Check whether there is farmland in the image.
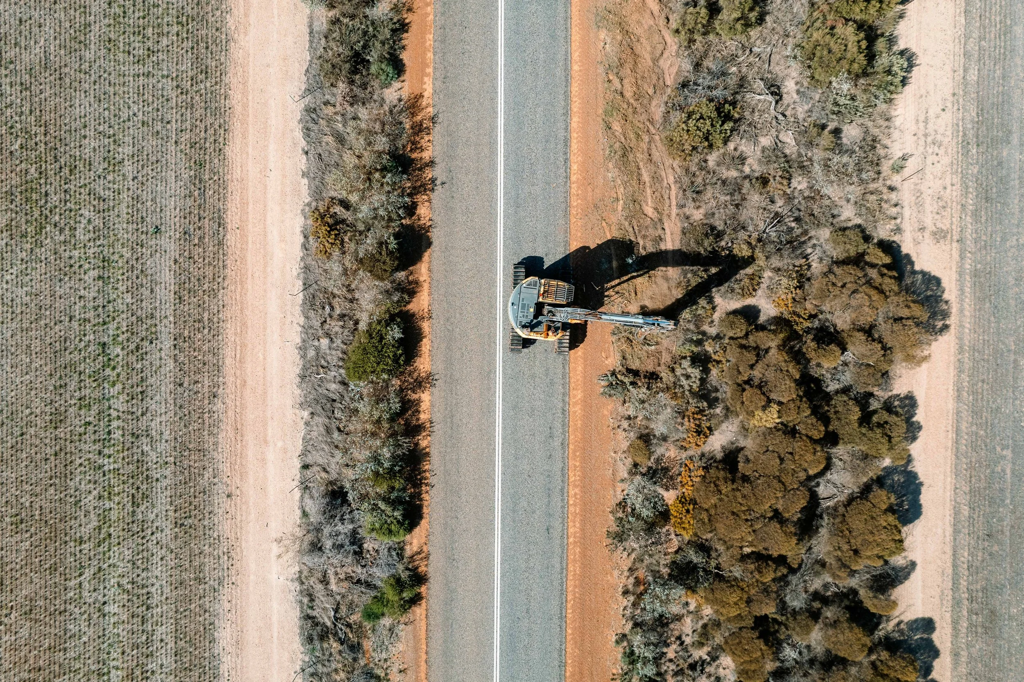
Yes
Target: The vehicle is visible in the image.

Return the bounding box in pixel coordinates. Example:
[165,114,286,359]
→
[508,265,680,354]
